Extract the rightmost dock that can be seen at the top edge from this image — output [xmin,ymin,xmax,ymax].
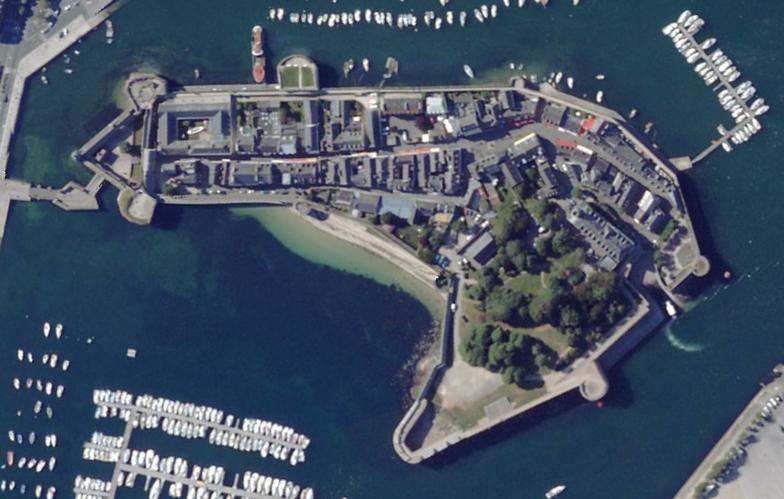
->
[678,22,755,119]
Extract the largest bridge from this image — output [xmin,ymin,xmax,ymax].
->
[2,178,60,202]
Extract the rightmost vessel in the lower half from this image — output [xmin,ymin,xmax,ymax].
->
[665,300,678,318]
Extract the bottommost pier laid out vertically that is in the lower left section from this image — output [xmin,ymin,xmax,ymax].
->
[109,413,137,499]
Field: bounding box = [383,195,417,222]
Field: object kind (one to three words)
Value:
building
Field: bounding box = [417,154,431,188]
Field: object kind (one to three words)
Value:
house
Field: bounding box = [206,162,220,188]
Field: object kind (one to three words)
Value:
house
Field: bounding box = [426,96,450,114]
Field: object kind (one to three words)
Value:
building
